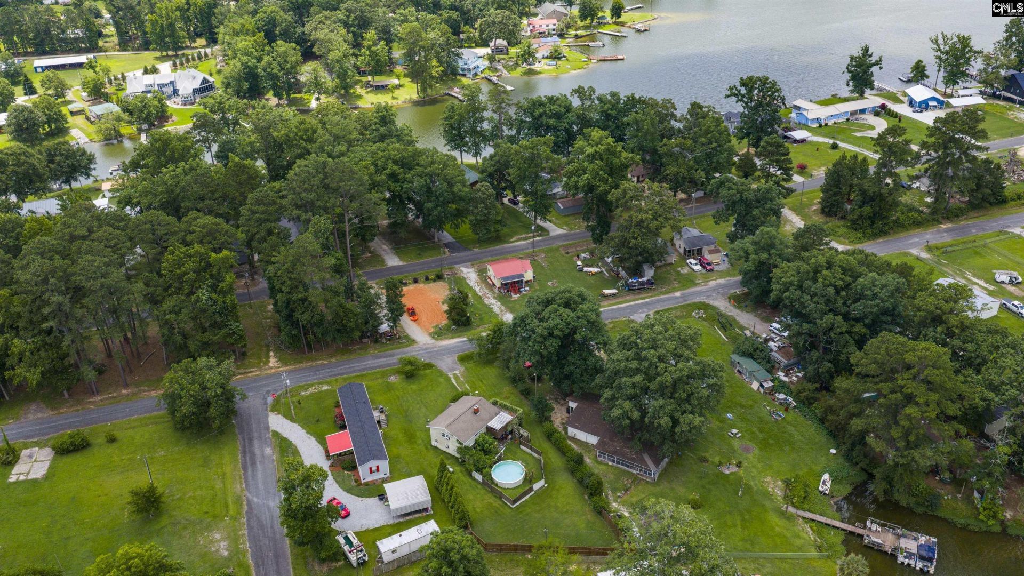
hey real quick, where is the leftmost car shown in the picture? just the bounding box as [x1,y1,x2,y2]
[325,494,350,516]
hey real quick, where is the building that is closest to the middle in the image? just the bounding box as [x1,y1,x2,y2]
[487,257,533,298]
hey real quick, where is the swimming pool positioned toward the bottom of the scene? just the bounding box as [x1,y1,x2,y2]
[491,459,526,490]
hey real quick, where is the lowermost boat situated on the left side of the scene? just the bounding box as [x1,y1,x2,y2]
[335,526,370,567]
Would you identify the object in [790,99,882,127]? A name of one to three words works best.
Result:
house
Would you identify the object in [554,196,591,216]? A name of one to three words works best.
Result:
shed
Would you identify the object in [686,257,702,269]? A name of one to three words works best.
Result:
vehicle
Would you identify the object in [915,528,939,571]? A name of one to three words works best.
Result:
boat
